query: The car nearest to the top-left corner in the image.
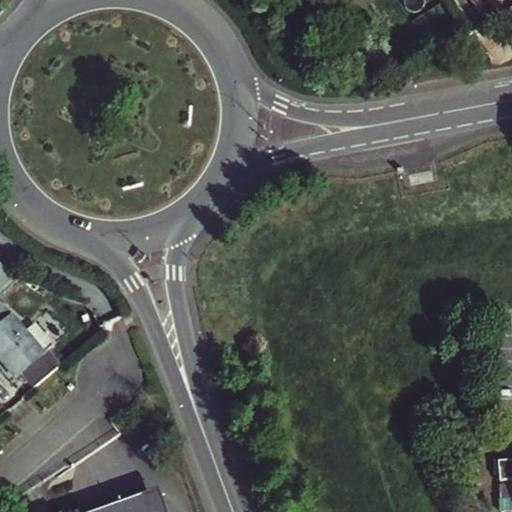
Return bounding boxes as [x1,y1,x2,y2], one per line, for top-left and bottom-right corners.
[72,216,92,230]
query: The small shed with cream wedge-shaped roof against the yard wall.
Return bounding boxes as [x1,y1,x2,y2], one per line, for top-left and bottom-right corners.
[49,468,74,496]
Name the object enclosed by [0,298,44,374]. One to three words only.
house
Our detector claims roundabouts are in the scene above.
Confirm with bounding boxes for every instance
[0,0,258,257]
